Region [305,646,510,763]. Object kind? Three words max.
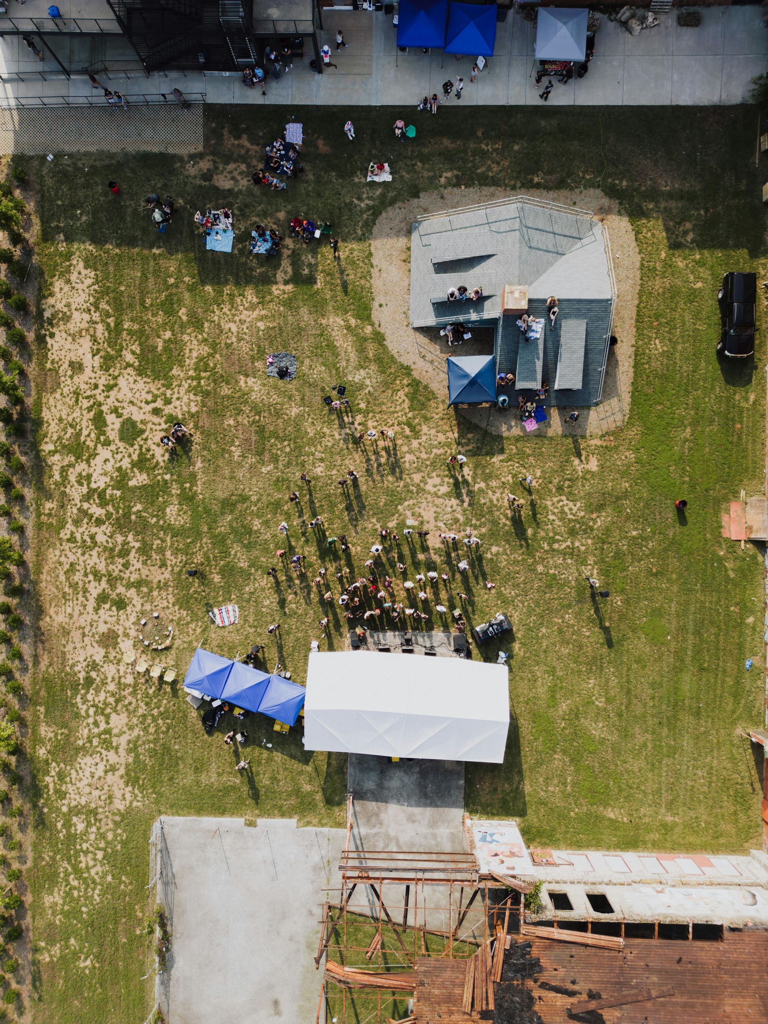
tent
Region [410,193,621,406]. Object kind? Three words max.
house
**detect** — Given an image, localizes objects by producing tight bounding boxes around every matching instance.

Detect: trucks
[715,273,760,361]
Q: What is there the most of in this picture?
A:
grass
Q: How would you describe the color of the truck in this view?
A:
black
